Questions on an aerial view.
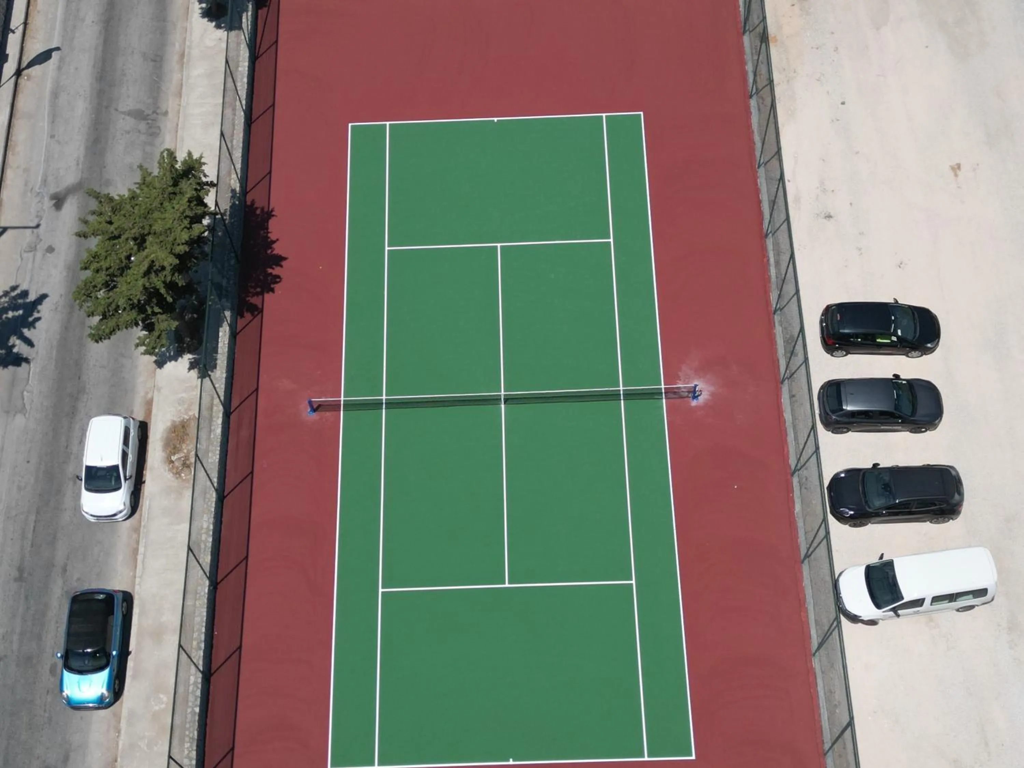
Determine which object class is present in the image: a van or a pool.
van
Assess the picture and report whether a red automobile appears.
No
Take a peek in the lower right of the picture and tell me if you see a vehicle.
Yes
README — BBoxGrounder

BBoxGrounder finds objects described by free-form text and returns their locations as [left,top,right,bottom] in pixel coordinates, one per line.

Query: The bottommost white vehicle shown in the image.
[836,547,997,625]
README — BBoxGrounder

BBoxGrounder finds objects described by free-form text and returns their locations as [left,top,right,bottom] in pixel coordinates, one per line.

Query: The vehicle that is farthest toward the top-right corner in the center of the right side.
[819,297,940,358]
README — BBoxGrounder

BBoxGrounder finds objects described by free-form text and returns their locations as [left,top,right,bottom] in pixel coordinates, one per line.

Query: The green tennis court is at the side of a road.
[203,0,825,768]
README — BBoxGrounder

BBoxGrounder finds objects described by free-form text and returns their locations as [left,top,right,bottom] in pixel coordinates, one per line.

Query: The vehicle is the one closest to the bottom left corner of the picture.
[52,588,125,710]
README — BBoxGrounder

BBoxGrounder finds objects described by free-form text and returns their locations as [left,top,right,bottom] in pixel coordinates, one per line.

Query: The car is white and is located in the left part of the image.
[73,413,141,522]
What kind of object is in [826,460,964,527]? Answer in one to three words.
car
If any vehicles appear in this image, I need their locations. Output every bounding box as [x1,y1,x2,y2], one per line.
[826,460,964,527]
[73,413,141,522]
[818,371,943,433]
[52,588,125,710]
[836,547,997,625]
[819,297,940,358]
